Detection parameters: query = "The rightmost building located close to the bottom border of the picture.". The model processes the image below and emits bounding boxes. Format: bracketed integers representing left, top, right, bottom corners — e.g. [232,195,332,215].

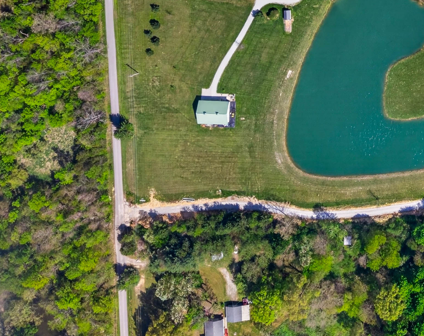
[226,303,252,322]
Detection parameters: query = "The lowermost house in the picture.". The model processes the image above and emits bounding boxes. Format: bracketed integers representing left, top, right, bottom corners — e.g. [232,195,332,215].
[204,317,225,336]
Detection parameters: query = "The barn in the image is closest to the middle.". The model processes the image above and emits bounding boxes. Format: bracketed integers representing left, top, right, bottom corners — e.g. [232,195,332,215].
[198,100,231,125]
